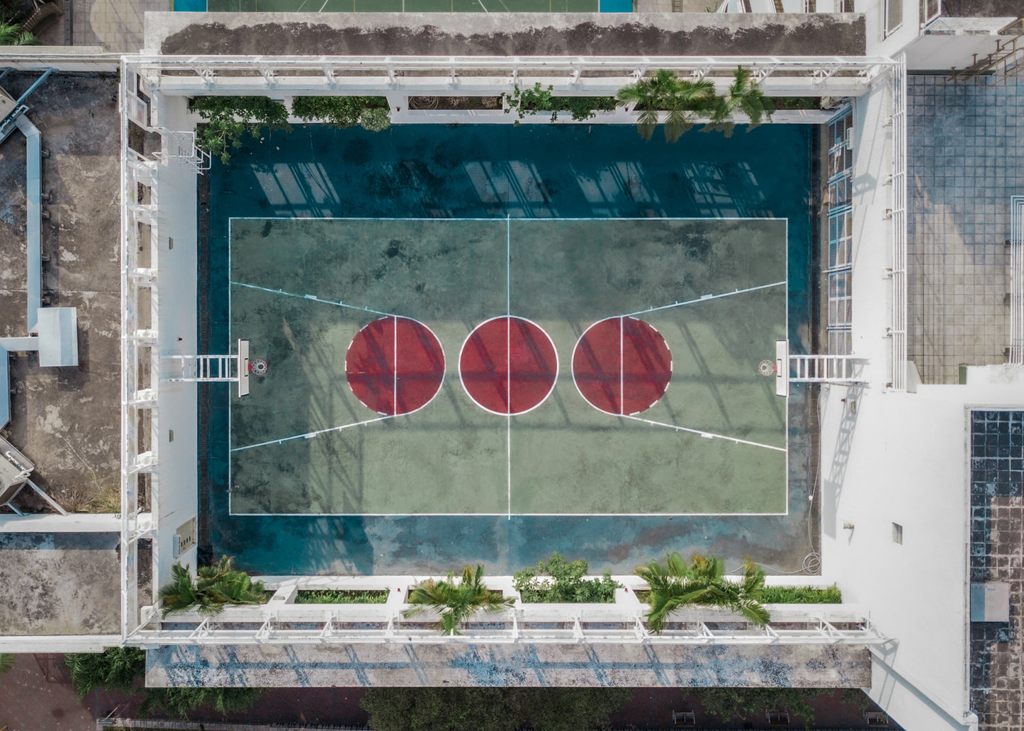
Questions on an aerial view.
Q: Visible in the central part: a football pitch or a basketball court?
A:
basketball court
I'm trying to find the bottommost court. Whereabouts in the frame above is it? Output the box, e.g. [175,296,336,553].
[198,117,821,575]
